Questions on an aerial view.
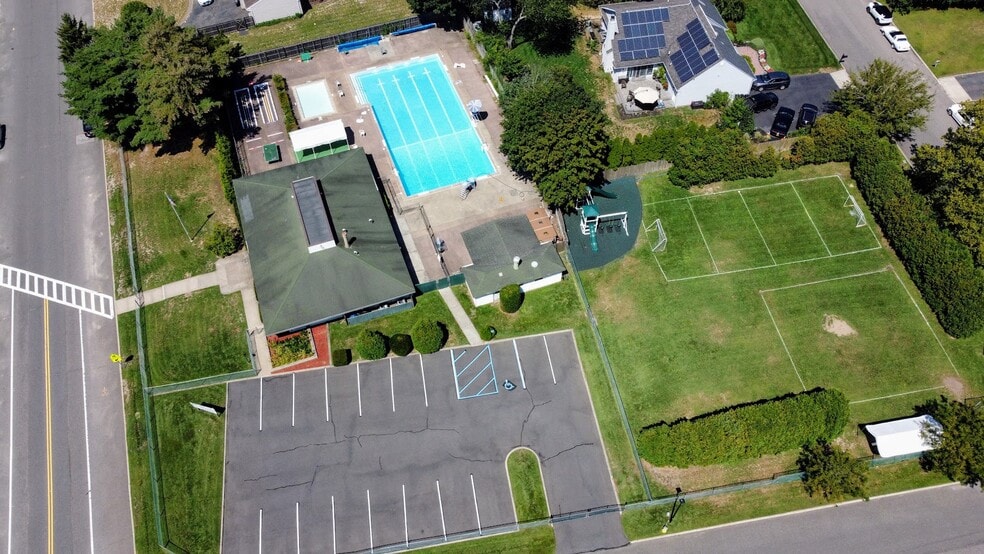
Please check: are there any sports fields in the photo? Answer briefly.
Yes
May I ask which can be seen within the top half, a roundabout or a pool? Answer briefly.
pool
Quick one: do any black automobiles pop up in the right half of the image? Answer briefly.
Yes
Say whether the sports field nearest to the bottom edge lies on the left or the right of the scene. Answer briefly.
right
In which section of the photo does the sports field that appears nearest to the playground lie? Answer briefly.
right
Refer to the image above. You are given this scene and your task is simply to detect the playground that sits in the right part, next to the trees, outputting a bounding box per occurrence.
[577,186,629,252]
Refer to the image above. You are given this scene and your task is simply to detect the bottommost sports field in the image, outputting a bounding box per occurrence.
[749,262,968,403]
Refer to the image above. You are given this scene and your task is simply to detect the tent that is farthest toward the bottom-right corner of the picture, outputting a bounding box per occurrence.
[858,412,938,465]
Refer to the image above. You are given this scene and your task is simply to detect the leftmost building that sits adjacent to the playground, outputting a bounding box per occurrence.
[459,214,565,306]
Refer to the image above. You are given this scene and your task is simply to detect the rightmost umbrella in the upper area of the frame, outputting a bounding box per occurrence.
[635,80,666,101]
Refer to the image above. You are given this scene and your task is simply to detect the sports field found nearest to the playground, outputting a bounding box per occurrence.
[640,176,882,282]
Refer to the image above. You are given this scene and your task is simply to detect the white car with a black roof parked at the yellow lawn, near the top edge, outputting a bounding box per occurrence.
[866,0,898,23]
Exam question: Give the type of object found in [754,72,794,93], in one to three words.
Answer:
car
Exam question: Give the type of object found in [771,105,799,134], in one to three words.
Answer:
car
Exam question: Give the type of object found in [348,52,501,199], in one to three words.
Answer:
swimming pool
